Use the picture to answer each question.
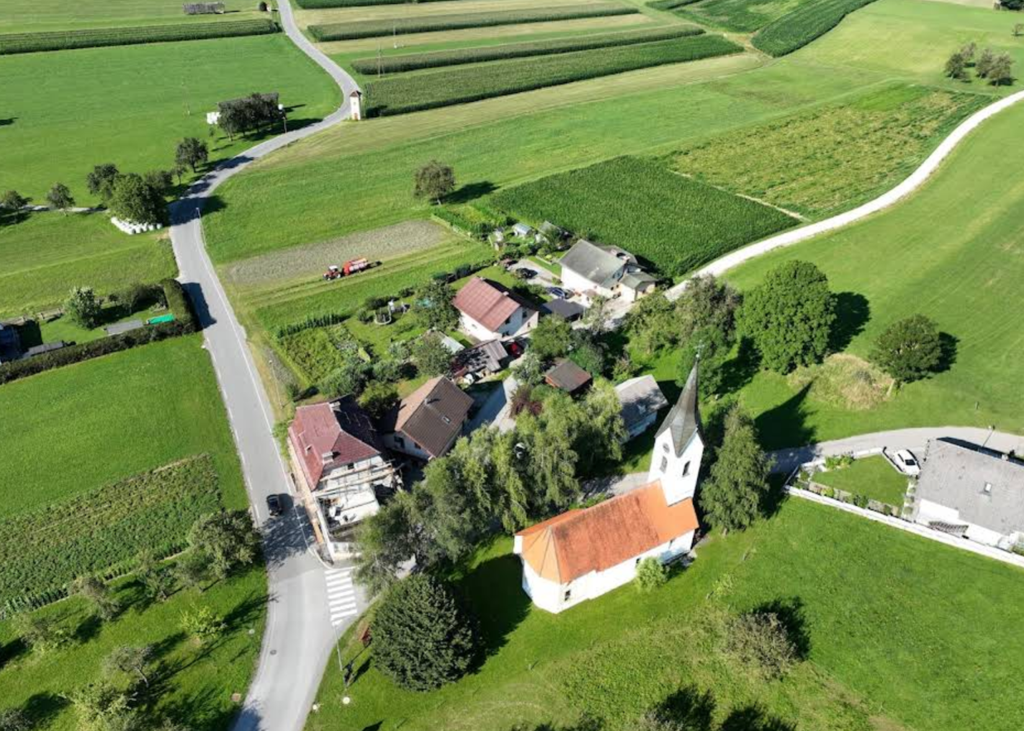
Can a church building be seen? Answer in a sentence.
Yes, the photo shows a church building.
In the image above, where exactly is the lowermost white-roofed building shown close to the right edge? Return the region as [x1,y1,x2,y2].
[917,423,1024,555]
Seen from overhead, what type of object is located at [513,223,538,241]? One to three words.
greenhouse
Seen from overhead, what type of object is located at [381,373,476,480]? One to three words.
house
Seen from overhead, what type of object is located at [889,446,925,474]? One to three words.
car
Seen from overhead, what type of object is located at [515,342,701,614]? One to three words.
church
